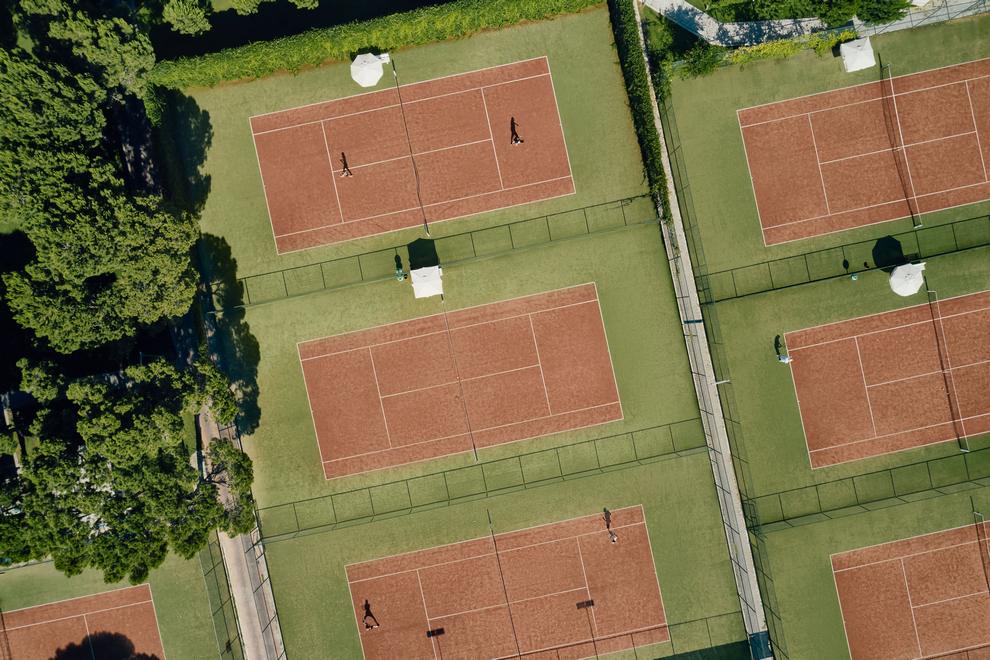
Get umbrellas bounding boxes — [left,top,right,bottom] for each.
[410,264,446,301]
[837,37,876,74]
[350,54,386,90]
[887,261,924,299]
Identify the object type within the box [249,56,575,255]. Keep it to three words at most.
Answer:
tennis court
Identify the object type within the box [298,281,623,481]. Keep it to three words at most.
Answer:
tennis court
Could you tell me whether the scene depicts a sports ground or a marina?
sports ground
